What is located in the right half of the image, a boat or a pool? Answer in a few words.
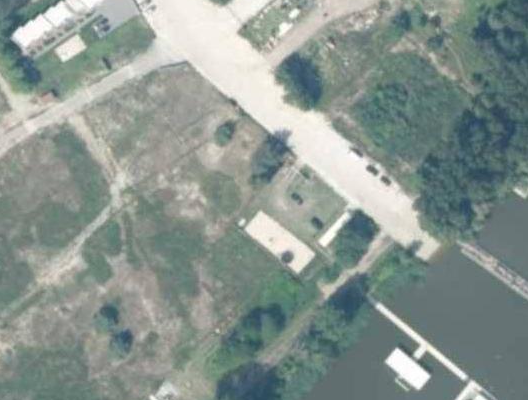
boat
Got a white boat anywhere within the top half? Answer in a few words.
No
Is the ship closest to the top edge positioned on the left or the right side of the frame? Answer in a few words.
right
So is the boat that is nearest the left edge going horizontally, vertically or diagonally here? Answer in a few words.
diagonally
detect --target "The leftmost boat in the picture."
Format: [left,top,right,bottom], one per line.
[385,348,431,390]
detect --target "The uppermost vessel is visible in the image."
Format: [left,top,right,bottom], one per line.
[460,238,528,301]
